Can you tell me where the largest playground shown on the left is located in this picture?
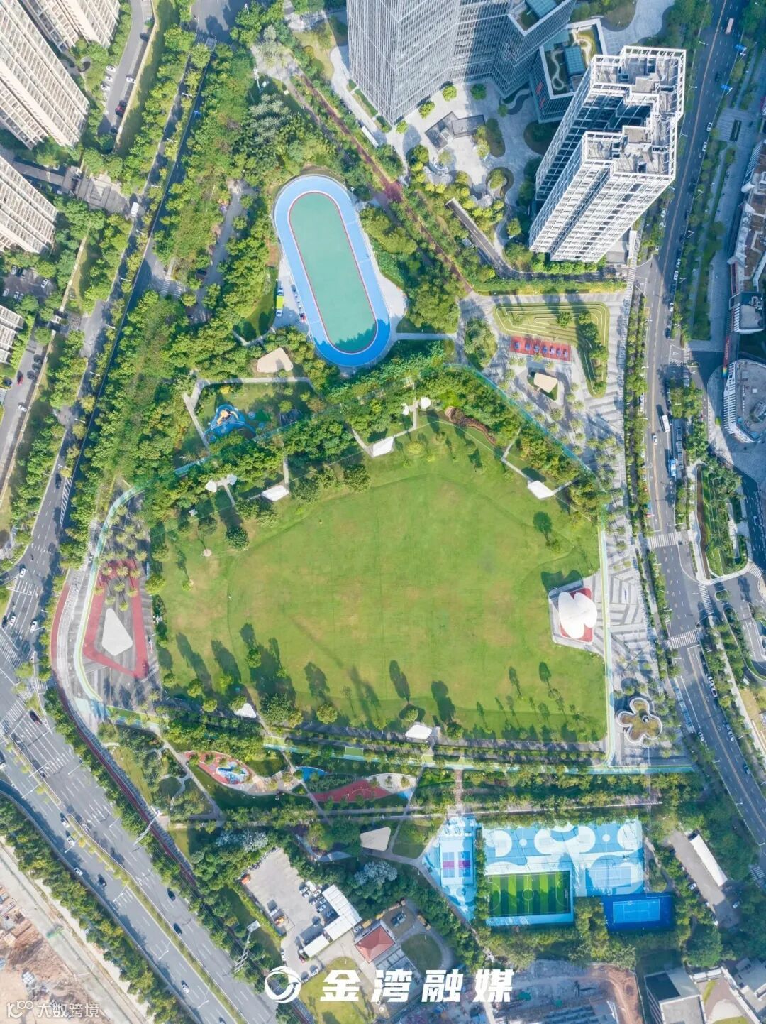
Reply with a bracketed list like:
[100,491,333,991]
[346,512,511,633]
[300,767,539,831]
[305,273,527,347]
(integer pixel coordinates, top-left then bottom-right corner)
[204,404,260,441]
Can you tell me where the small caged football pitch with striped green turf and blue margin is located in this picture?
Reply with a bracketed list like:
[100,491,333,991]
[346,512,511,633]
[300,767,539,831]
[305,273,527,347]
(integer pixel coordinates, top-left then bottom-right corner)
[486,871,573,926]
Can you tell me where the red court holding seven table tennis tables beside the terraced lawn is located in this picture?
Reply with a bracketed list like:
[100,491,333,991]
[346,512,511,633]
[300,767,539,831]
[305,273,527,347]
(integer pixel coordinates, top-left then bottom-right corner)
[510,336,572,361]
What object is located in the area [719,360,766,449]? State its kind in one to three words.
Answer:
building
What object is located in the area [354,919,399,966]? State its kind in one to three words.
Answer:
house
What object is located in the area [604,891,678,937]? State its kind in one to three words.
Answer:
tennis court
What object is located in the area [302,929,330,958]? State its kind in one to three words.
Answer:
shed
